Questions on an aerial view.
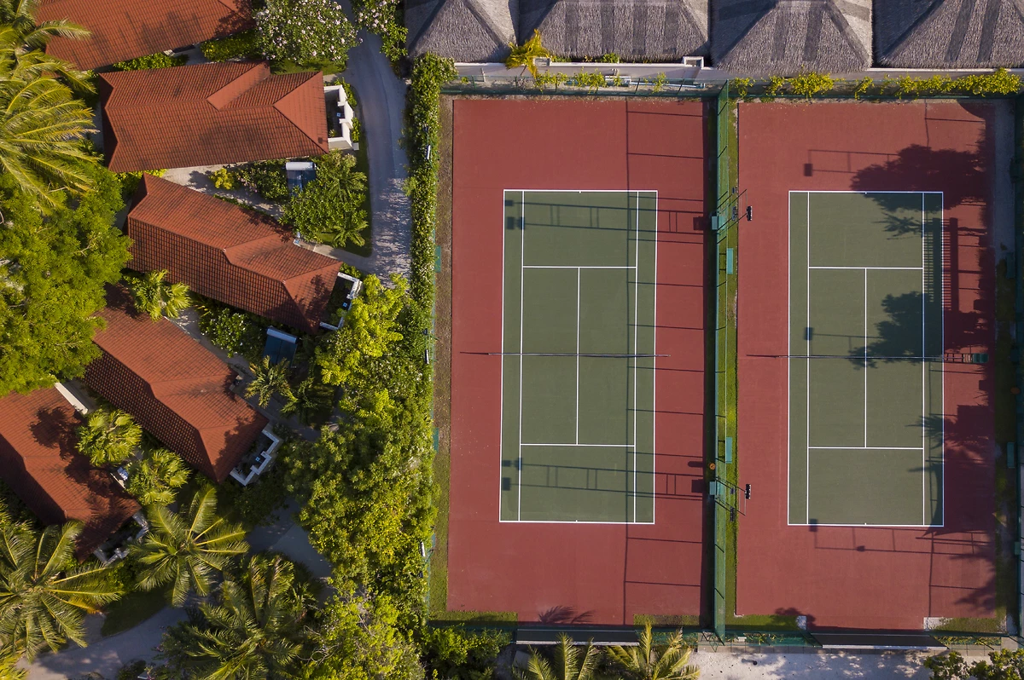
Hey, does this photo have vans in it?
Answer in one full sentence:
No, there is no van in the image.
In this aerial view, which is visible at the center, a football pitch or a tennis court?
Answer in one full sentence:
Visible at the center is a tennis court.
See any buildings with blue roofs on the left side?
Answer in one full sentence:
No, no building with a blue roof appears on the left side.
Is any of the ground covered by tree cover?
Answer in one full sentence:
Yes, tree cover can be seen from above here.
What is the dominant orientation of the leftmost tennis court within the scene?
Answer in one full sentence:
The leftmost tennis court is laid out from top to bottom.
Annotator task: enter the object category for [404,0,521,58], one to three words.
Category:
building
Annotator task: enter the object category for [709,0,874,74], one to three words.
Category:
building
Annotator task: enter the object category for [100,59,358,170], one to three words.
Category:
house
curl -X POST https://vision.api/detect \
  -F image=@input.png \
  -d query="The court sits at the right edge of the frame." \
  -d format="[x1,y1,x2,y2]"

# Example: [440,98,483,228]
[736,102,996,630]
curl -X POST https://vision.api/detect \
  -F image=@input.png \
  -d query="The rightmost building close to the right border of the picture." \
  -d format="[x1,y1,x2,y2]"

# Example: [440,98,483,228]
[872,0,1024,69]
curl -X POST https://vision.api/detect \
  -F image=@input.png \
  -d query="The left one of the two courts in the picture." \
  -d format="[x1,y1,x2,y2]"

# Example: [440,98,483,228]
[449,99,708,628]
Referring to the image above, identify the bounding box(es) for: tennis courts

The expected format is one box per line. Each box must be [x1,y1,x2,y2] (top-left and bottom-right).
[736,102,996,630]
[449,99,708,628]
